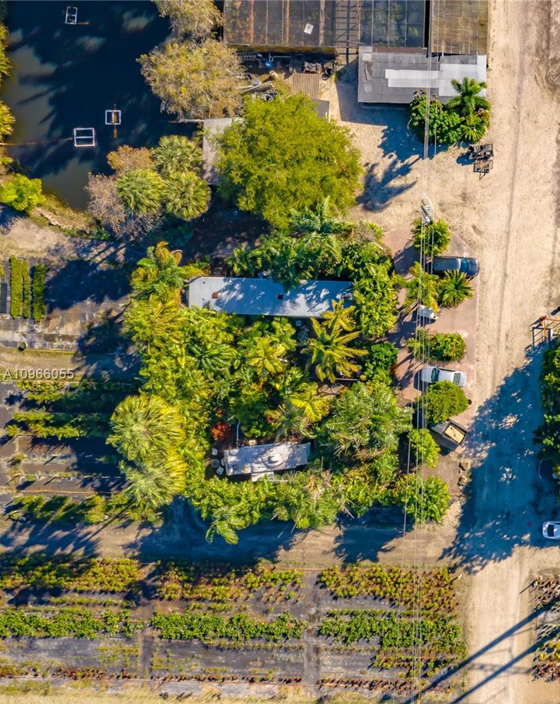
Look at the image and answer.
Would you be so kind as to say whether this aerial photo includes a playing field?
No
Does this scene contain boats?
No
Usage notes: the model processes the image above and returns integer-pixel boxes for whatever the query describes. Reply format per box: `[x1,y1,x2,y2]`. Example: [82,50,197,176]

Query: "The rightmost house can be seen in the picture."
[429,0,488,65]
